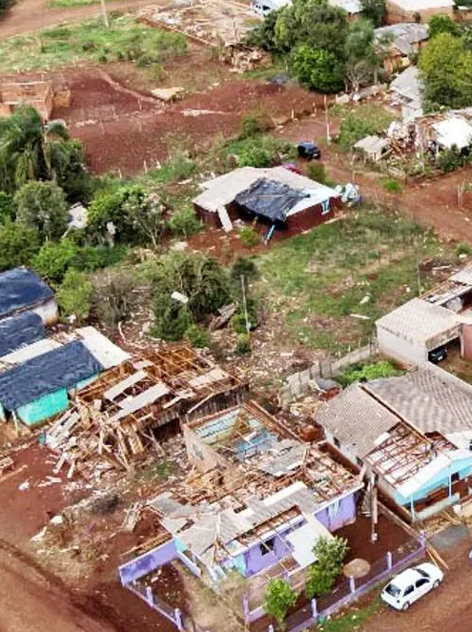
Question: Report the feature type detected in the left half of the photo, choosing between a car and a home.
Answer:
home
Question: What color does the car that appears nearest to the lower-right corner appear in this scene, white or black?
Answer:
white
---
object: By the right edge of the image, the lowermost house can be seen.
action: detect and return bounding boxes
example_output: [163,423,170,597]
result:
[311,371,472,529]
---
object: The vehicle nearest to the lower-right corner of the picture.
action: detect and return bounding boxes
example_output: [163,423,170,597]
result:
[377,560,447,610]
